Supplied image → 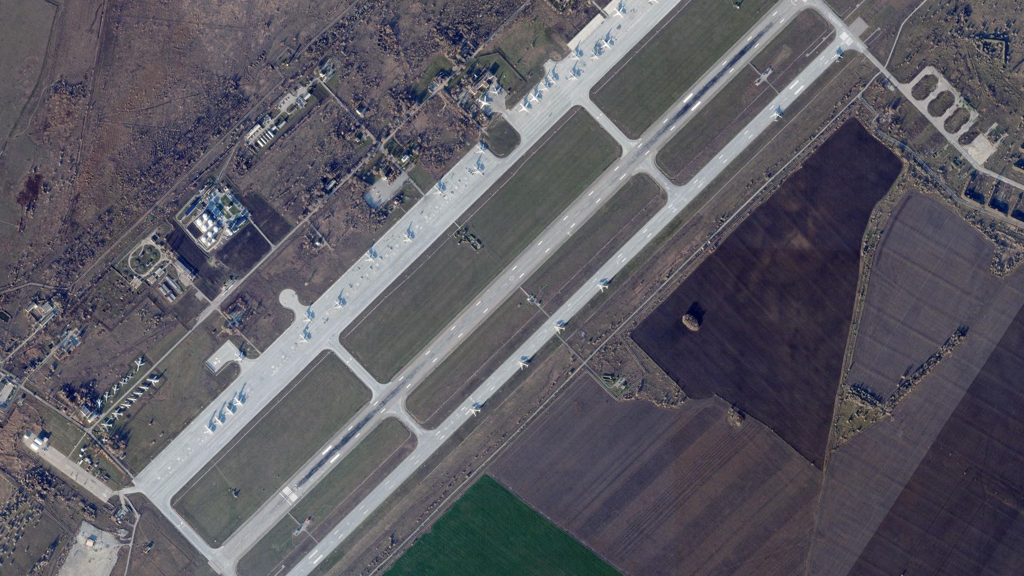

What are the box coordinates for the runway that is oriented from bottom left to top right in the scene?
[223,0,811,563]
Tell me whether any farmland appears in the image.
Yes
